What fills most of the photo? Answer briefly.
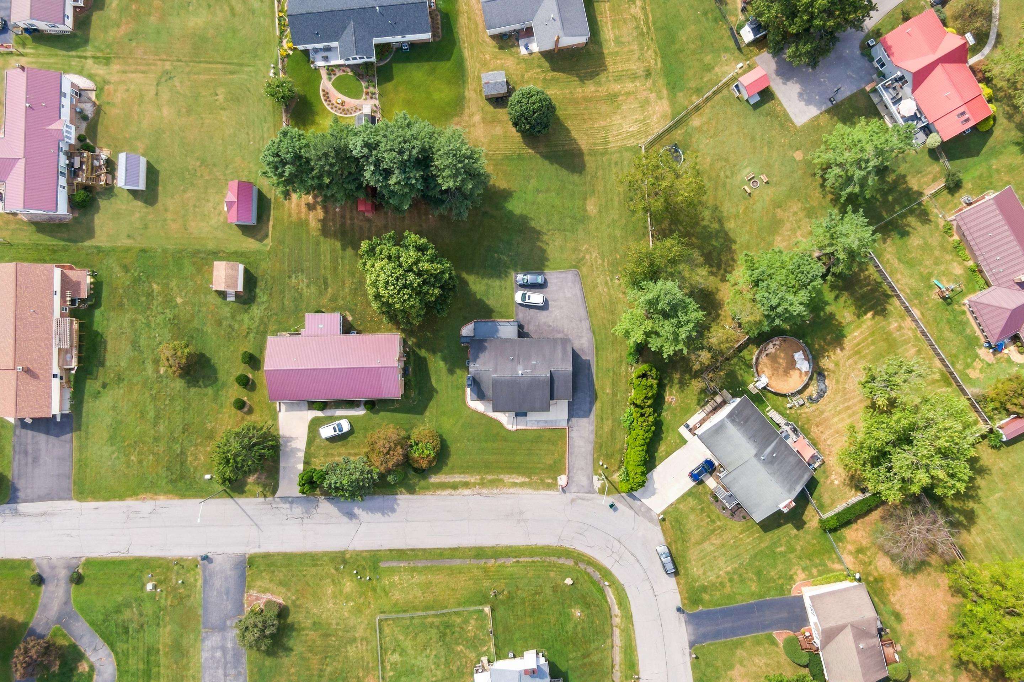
grass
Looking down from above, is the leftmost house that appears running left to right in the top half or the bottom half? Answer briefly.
top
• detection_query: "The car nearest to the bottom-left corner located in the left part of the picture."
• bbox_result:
[318,419,351,438]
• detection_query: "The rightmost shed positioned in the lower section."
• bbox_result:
[991,412,1024,442]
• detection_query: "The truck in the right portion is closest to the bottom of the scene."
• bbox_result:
[656,543,677,576]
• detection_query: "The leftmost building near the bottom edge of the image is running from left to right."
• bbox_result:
[474,650,551,682]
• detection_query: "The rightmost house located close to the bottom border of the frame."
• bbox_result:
[799,577,888,682]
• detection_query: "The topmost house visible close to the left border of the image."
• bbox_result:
[11,0,87,31]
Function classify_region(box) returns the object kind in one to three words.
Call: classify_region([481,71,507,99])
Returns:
shed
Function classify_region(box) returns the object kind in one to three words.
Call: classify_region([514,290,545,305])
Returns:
car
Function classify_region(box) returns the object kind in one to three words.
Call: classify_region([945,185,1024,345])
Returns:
house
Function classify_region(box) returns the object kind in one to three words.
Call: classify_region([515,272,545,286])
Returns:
car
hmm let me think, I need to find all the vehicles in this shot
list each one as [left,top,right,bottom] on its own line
[318,419,351,438]
[656,543,677,576]
[514,290,545,305]
[0,17,7,30]
[688,459,716,484]
[515,272,545,286]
